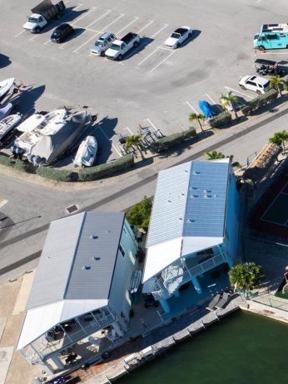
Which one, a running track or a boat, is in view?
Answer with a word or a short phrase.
boat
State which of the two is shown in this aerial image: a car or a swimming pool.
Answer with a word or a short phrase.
car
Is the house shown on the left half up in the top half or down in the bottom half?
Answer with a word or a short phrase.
bottom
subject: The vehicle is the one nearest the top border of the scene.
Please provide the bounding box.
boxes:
[22,0,72,29]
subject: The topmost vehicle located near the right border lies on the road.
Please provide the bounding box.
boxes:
[255,26,288,50]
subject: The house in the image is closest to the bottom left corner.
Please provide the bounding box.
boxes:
[18,210,135,377]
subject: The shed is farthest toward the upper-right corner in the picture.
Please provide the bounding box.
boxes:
[235,143,288,197]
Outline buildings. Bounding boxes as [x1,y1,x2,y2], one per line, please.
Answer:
[142,159,235,319]
[18,210,135,377]
[235,143,288,197]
